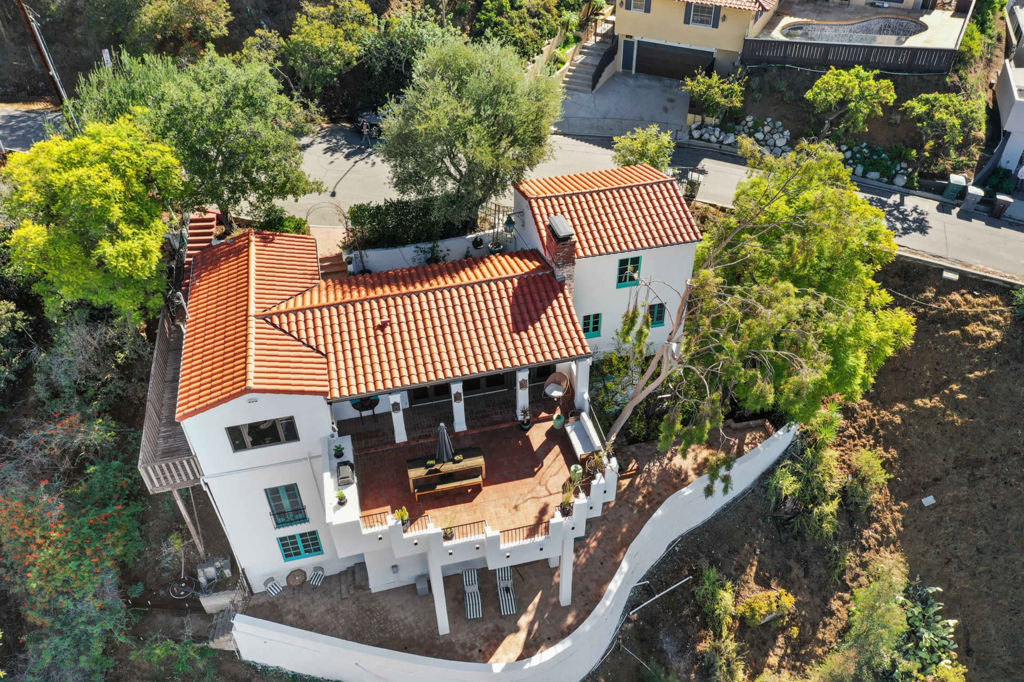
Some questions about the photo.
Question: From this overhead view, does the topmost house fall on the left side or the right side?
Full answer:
The topmost house sits on the right side.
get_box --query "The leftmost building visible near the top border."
[614,0,769,83]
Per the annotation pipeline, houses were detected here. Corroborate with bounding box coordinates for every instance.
[133,162,706,636]
[990,7,1024,189]
[614,0,769,83]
